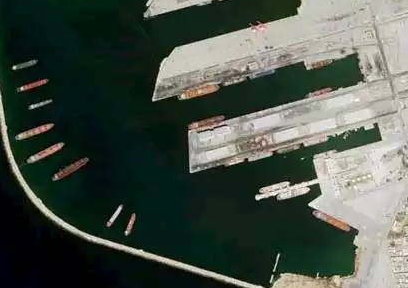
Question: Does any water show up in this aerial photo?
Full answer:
Yes, water shows up in the scene.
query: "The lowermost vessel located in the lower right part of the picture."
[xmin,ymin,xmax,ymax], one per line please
[314,210,350,230]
